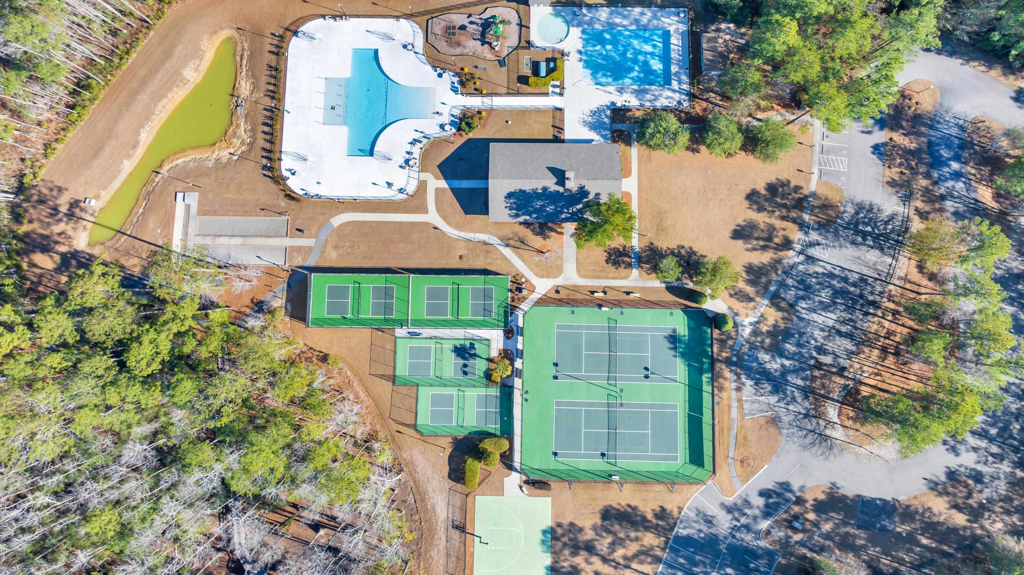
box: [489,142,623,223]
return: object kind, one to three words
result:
building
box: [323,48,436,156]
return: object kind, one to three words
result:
swimming pool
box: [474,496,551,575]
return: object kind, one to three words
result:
basketball court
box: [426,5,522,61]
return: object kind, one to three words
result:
playground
